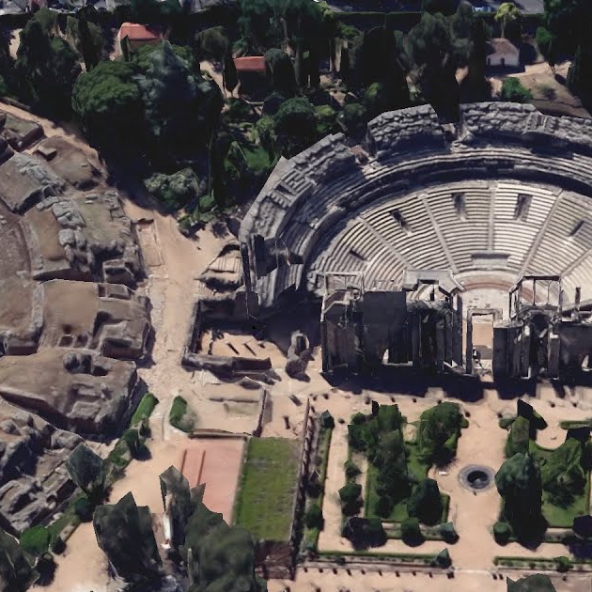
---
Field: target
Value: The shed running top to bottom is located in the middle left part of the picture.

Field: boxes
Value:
[137,214,164,265]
